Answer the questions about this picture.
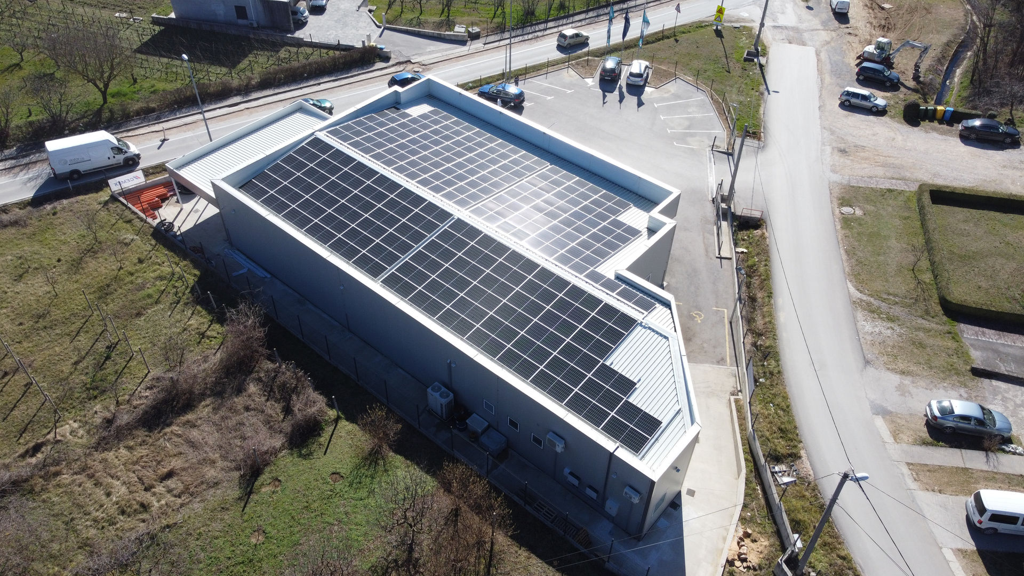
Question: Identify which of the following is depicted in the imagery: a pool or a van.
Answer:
van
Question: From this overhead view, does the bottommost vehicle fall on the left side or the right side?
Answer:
right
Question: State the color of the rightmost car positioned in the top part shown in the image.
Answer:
black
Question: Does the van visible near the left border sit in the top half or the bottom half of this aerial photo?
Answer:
top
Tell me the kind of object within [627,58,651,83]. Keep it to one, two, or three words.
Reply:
car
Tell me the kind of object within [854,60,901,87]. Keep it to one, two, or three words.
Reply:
car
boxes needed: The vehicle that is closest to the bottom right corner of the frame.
[964,489,1024,536]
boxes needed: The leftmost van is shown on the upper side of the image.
[43,132,140,180]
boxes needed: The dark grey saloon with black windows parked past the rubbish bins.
[960,117,1022,143]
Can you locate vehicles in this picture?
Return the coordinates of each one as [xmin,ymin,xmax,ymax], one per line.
[43,132,140,180]
[379,66,423,89]
[853,35,931,81]
[925,400,1014,442]
[831,0,852,12]
[601,54,625,79]
[285,96,335,113]
[627,58,651,83]
[477,82,528,108]
[960,117,1022,143]
[291,4,313,25]
[838,85,889,113]
[964,489,1024,536]
[854,60,901,87]
[555,27,592,48]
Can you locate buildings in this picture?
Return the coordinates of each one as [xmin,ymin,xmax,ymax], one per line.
[166,0,295,30]
[166,74,702,542]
